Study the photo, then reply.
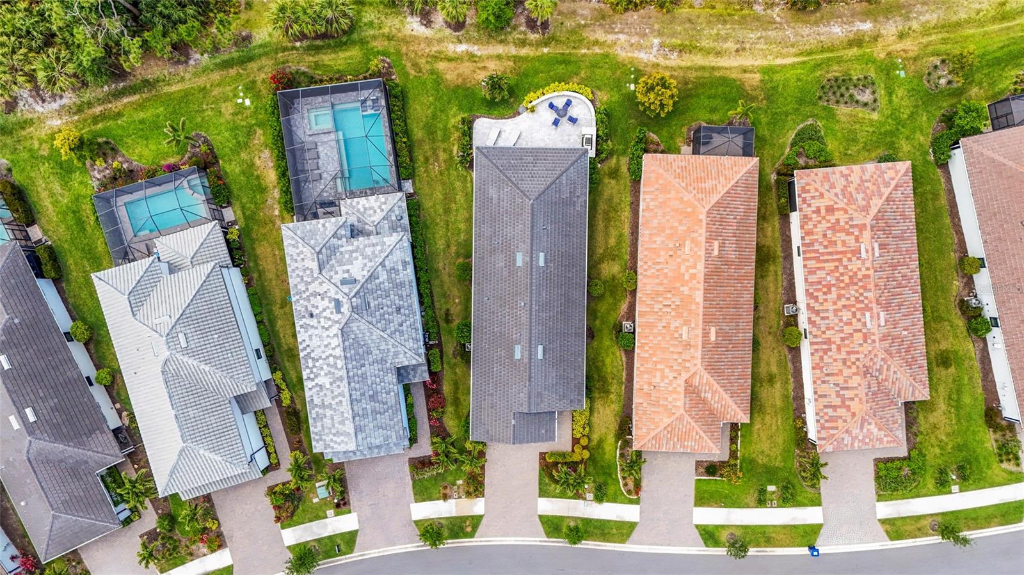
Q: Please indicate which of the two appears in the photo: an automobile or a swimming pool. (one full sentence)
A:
The one in the frame is a swimming pool.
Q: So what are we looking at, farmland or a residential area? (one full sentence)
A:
What you see here is a residential area.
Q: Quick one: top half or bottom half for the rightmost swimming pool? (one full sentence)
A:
The rightmost swimming pool is in the top half of the image.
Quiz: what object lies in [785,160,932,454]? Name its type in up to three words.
house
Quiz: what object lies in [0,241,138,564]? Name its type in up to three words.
house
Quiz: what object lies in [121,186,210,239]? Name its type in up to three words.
swimming pool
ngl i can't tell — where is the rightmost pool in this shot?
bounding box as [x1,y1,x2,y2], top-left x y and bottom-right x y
[329,98,393,194]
